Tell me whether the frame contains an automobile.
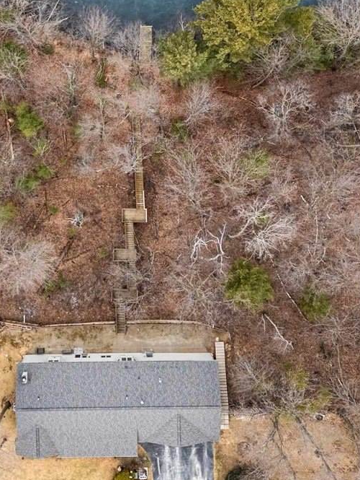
No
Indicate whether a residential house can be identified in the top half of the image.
No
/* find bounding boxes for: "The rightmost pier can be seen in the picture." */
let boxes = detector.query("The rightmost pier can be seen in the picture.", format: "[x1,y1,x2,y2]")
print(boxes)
[140,26,152,63]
